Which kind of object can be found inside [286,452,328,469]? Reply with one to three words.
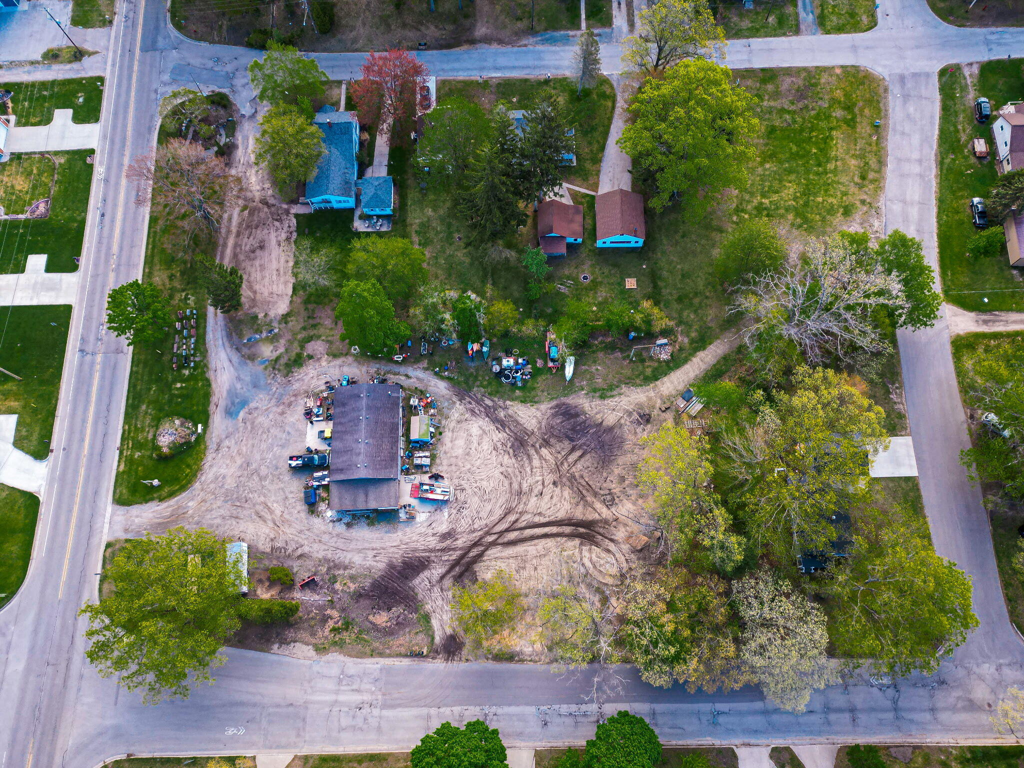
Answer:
vehicle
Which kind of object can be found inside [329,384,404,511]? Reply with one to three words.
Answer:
building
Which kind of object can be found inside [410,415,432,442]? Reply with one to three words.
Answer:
shed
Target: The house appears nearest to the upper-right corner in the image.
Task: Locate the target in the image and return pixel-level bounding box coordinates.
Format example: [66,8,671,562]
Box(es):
[989,104,1024,187]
